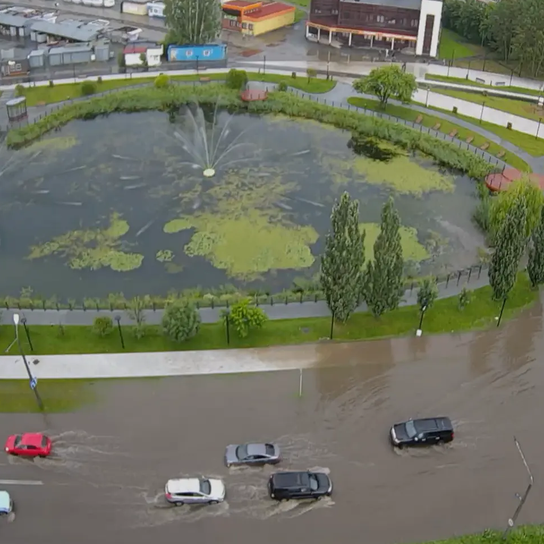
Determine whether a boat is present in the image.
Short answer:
No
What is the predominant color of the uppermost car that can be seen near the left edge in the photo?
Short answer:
red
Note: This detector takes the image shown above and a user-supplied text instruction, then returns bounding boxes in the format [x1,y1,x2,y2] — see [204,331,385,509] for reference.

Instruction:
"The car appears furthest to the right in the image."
[393,412,457,447]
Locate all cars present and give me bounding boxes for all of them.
[393,412,457,447]
[165,476,224,506]
[0,492,17,520]
[270,469,330,499]
[1,434,54,459]
[225,442,280,468]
